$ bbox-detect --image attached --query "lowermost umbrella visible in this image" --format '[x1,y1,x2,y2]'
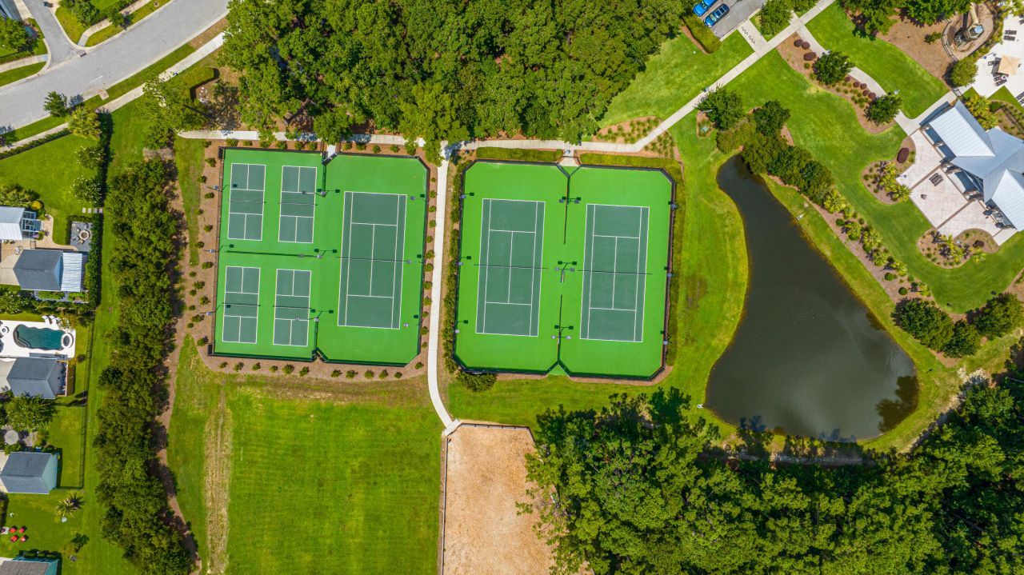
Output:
[6,430,23,444]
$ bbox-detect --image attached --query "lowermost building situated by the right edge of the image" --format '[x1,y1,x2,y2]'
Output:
[920,99,1024,226]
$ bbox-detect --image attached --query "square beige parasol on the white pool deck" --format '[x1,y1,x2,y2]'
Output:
[996,58,1016,74]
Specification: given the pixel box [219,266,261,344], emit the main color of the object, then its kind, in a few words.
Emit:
green sports court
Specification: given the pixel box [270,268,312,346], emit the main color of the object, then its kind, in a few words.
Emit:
green sports court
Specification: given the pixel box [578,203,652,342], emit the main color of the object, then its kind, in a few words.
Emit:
green tennis court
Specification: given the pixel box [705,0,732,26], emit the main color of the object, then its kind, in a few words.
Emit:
blue car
